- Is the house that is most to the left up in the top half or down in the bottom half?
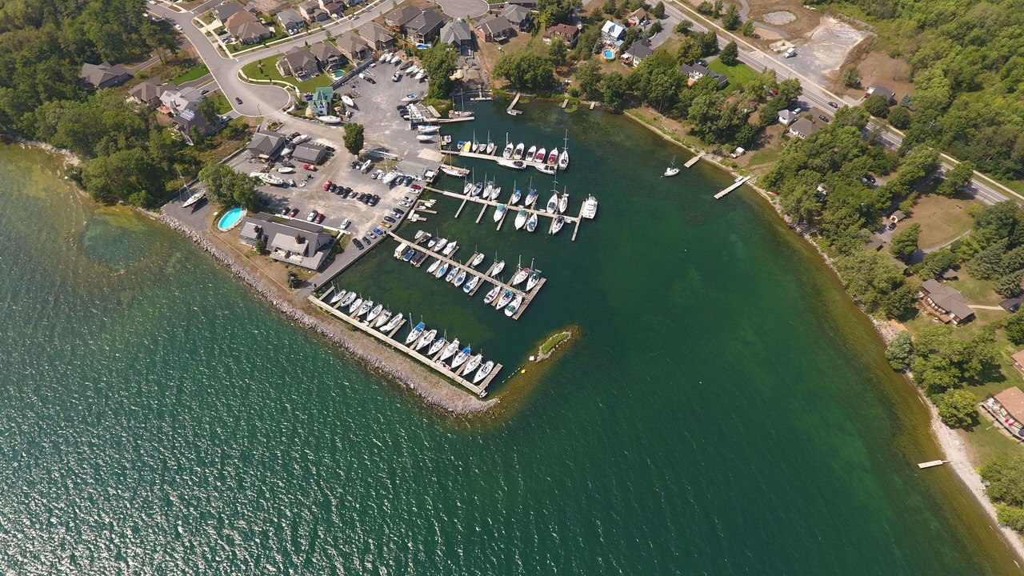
top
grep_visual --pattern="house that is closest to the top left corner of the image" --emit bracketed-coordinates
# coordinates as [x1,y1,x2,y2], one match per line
[77,55,132,91]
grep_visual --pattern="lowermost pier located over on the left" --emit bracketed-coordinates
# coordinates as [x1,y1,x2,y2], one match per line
[307,284,505,394]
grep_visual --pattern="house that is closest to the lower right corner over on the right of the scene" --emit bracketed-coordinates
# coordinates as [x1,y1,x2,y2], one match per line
[982,389,1024,441]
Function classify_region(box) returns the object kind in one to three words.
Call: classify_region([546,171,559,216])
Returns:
boat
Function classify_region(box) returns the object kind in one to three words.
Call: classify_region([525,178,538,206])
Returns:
boat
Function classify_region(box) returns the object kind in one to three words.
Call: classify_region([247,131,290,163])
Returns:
building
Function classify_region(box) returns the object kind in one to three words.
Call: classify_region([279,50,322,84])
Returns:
house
